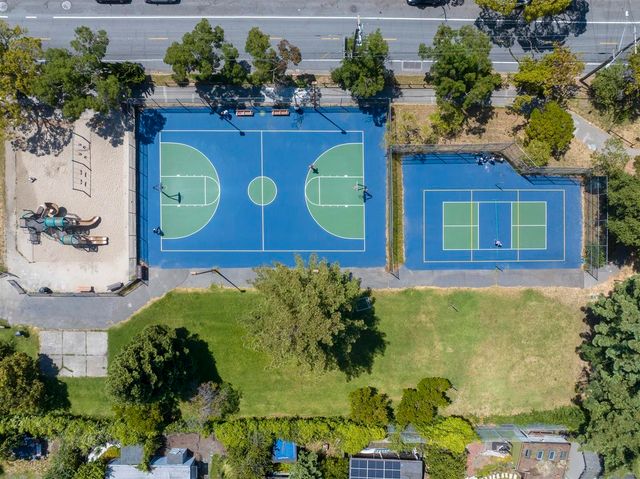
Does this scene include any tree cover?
Yes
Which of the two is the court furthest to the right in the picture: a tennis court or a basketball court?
tennis court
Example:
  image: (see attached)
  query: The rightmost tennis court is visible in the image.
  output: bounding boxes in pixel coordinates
[402,151,582,271]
